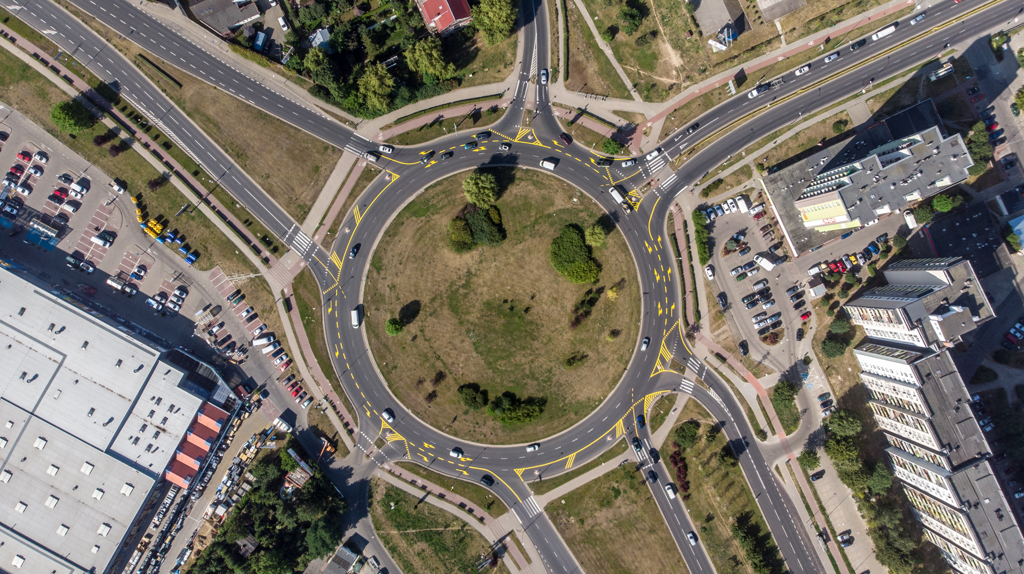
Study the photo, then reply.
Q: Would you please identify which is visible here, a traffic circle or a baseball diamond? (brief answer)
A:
traffic circle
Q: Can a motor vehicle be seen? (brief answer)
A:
Yes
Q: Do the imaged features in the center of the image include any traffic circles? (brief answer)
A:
Yes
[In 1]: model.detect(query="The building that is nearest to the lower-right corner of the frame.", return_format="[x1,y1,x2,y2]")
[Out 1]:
[886,451,1024,574]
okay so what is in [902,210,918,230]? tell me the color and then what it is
white vehicle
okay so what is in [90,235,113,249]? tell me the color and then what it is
white vehicle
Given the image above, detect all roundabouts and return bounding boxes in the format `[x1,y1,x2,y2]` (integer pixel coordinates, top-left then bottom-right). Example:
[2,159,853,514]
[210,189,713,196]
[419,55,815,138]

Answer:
[314,126,692,503]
